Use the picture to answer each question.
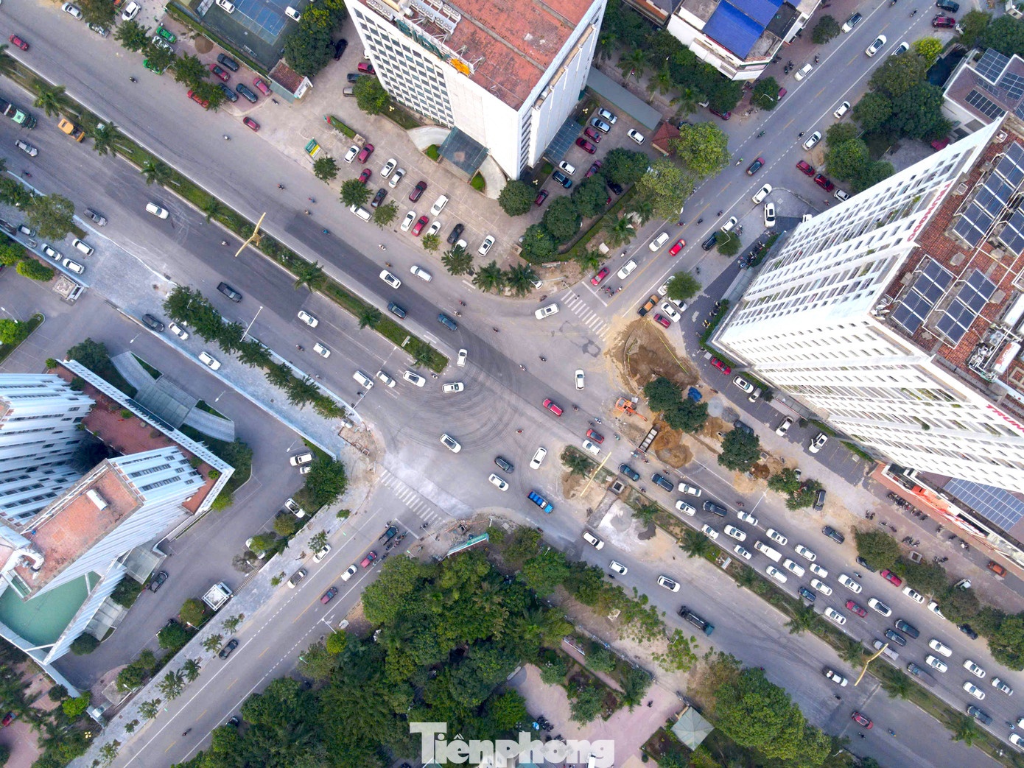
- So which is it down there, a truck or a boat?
truck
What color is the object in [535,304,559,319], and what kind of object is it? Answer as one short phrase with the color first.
white car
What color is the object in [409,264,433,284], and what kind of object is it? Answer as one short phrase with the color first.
white vehicle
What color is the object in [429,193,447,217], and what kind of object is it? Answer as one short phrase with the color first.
white car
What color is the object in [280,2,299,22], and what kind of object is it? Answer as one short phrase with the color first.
white vehicle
